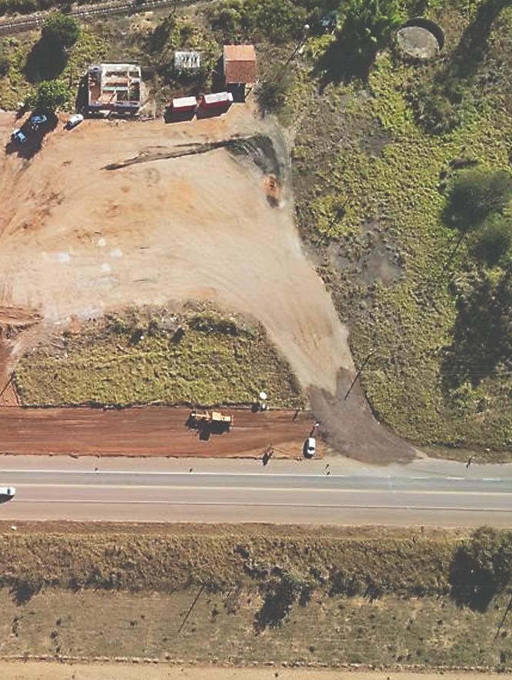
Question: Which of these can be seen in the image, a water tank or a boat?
water tank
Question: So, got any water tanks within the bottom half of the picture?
No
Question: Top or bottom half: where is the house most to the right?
top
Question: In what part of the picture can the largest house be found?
top left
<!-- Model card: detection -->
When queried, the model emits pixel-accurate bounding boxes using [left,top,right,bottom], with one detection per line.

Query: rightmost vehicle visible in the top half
[202,92,234,110]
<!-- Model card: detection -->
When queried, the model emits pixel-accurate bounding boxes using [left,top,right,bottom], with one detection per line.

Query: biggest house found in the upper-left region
[88,64,141,111]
